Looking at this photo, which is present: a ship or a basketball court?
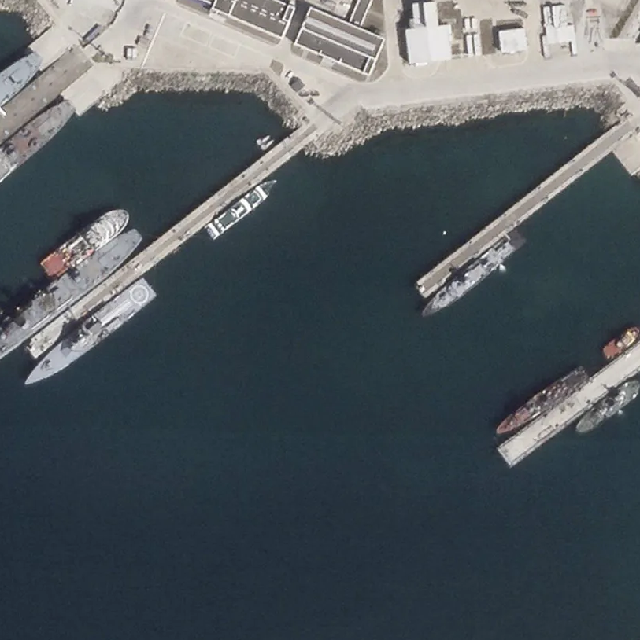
ship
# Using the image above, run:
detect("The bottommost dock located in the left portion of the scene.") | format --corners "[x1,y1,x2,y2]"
[27,125,317,360]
